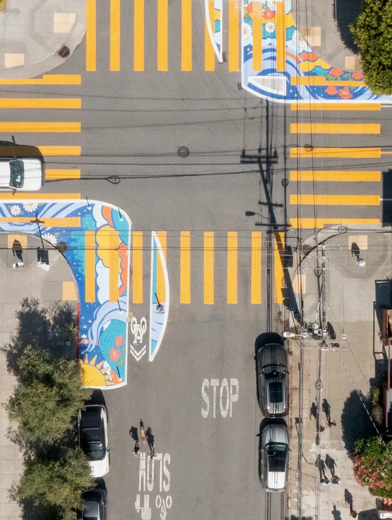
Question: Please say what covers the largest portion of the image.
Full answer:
The scene is dominated by paved ground.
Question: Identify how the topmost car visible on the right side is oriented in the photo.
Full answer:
What the image shows is the topmost car visible on the right side lying vertically.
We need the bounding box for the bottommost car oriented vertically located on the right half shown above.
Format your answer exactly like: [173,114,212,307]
[257,421,292,492]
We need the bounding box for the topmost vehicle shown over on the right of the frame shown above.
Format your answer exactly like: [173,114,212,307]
[255,340,291,418]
